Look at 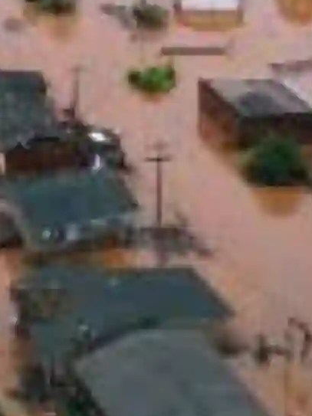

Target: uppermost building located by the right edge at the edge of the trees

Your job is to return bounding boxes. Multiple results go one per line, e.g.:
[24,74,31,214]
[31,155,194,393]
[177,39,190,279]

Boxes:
[200,78,312,148]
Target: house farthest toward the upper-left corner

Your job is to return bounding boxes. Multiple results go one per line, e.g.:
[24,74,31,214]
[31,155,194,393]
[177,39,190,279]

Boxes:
[0,67,84,182]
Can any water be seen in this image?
Yes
